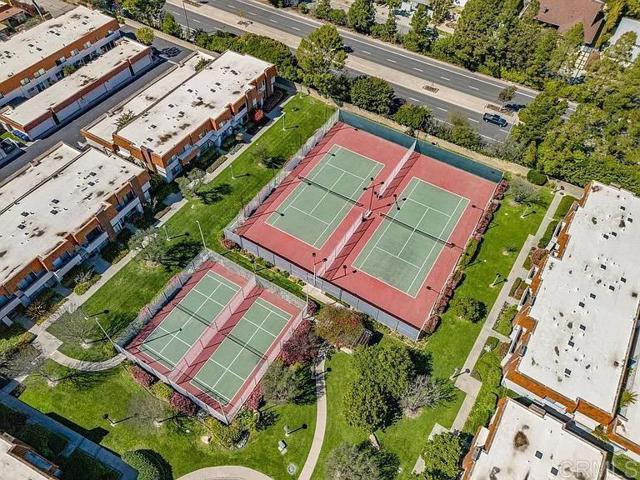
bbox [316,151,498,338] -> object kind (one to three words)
tennis court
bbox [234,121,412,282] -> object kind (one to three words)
tennis court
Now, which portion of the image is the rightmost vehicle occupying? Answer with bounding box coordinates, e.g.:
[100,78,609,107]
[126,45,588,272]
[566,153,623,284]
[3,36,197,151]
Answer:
[481,111,509,128]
